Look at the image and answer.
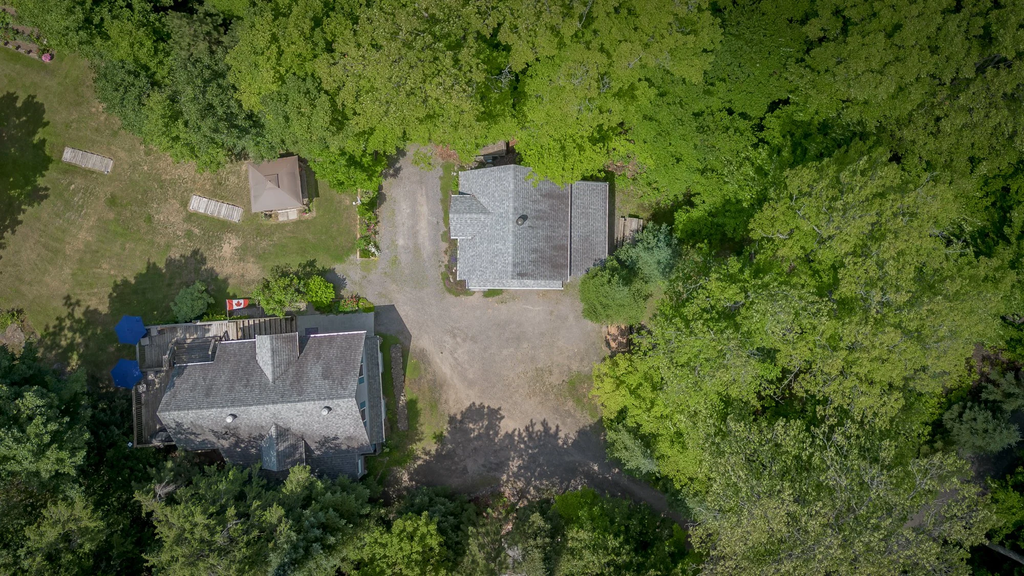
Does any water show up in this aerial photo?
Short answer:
No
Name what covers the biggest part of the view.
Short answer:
trees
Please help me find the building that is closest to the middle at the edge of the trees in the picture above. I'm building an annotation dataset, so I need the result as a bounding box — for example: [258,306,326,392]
[450,164,609,290]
